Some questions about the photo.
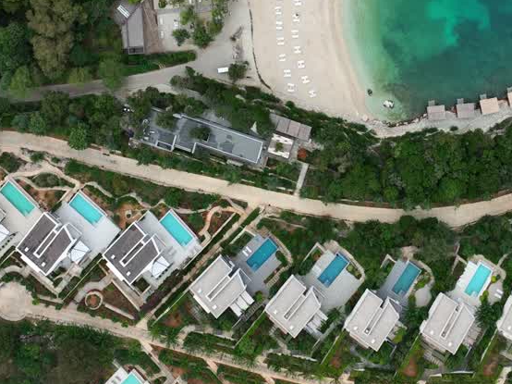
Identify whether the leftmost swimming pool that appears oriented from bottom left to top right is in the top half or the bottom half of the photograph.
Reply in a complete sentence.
It is in the bottom half that the leftmost swimming pool that appears oriented from bottom left to top right appears.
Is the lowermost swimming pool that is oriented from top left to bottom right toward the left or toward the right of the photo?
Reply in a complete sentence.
The lowermost swimming pool that is oriented from top left to bottom right is on the left side of the image.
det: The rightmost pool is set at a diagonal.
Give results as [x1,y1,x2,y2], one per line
[463,263,494,300]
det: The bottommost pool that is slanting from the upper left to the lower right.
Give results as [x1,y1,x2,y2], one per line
[158,212,193,248]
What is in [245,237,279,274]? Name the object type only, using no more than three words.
swimming pool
